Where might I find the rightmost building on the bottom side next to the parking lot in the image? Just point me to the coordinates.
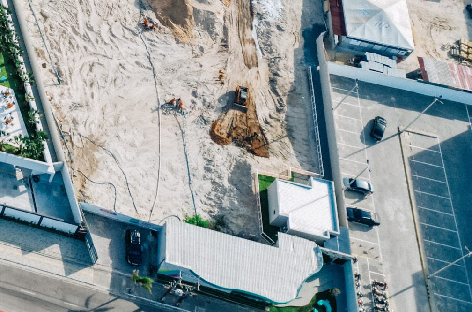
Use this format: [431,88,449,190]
[255,177,340,247]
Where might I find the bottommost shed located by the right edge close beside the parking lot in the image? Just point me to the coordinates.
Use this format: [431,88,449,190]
[409,57,472,101]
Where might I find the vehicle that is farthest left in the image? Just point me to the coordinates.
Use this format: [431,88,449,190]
[128,224,144,267]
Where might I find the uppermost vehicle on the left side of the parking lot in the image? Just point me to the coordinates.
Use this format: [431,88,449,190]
[233,84,252,113]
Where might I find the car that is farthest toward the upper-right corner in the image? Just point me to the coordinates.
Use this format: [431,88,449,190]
[369,111,391,141]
